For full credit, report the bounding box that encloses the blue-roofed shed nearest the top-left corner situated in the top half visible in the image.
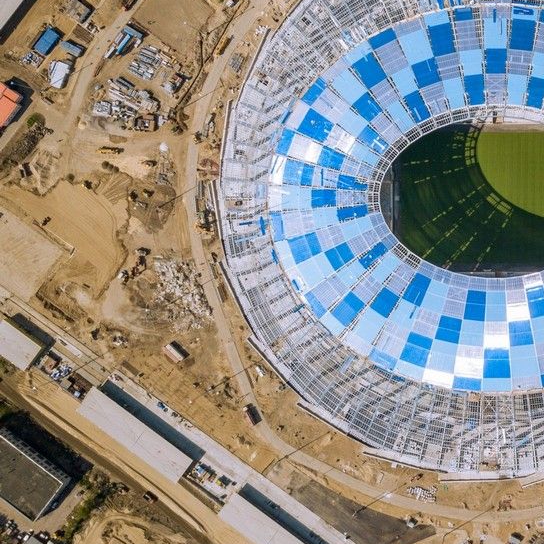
[34,26,64,56]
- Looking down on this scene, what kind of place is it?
sports ground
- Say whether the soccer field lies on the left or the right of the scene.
right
